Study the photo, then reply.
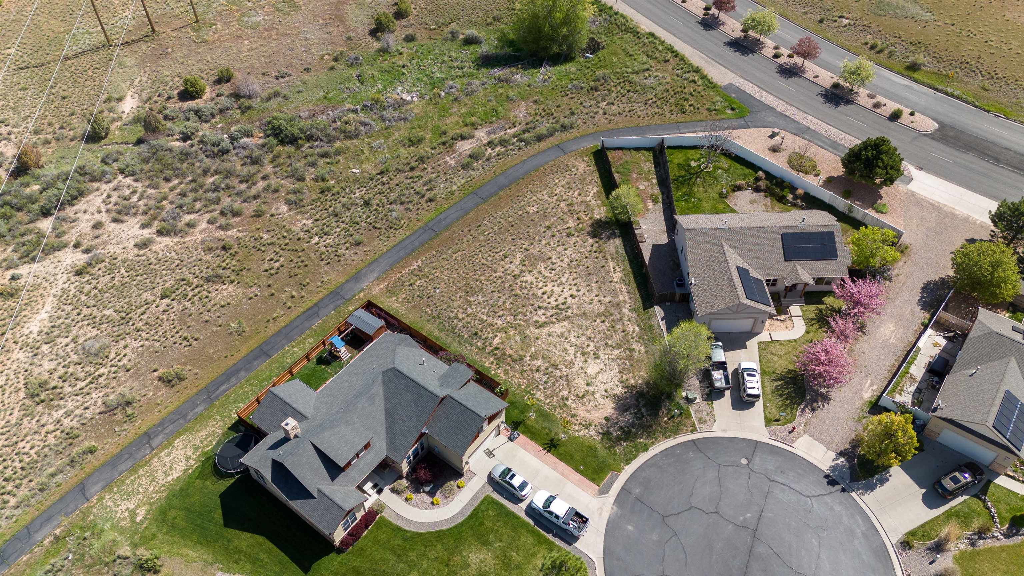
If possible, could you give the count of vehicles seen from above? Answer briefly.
5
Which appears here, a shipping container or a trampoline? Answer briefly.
trampoline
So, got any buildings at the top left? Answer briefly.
No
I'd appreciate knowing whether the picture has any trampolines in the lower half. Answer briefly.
Yes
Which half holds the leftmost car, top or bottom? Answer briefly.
bottom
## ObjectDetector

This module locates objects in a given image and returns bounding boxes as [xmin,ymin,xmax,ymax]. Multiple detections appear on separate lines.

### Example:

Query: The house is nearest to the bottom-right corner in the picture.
[922,307,1024,476]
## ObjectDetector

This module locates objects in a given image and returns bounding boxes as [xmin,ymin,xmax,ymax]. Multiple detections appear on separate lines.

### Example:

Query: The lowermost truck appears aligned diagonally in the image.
[530,490,593,541]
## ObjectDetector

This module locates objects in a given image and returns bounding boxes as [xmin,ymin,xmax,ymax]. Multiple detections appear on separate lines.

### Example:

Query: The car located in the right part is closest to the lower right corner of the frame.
[932,467,988,501]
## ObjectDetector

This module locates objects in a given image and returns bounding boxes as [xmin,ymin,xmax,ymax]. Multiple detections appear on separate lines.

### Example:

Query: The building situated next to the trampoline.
[239,329,510,545]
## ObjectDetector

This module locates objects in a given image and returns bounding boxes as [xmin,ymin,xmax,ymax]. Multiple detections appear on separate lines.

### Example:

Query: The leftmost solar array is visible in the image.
[737,265,771,305]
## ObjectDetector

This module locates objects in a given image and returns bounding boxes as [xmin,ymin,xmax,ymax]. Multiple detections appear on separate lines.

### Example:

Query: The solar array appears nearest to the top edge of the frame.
[781,231,838,260]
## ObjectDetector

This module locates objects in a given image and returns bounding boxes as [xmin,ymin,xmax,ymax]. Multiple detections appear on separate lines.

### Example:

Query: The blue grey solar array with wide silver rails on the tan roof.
[996,380,1024,447]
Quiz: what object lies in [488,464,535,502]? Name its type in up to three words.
car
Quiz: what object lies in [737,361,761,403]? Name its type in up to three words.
car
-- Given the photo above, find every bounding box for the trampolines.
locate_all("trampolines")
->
[210,423,261,476]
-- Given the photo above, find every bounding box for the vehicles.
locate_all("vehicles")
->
[932,467,988,501]
[530,490,593,541]
[488,464,535,502]
[710,351,733,394]
[737,361,761,403]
